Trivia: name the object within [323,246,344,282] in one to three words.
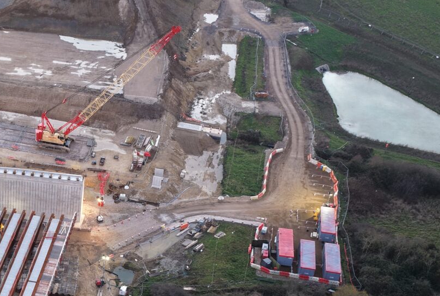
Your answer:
building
